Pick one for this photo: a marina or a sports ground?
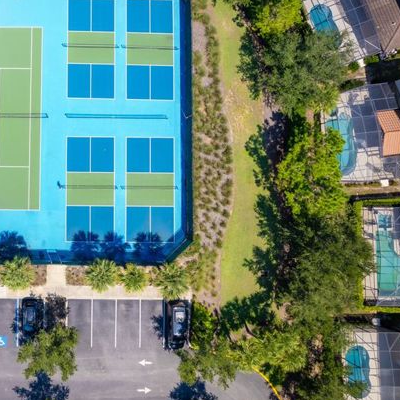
sports ground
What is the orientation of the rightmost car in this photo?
from top to bottom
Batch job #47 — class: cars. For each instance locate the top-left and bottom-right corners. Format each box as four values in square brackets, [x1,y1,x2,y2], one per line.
[167,302,187,348]
[21,296,39,338]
